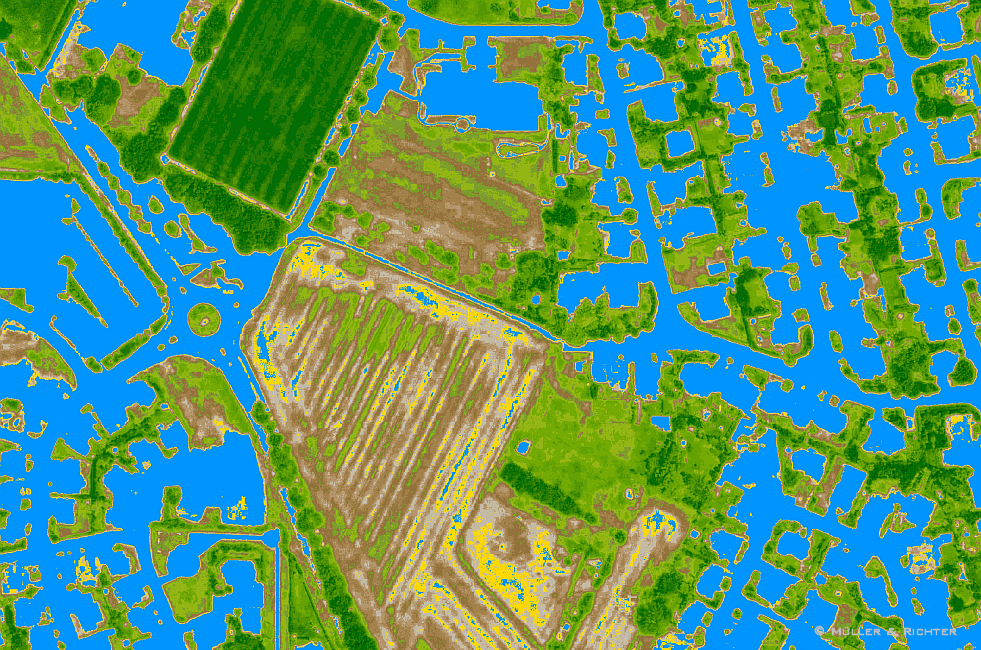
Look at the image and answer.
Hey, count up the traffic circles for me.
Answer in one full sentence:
Just 1 traffic circle appears in this view.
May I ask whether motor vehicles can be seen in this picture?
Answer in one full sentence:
No, I can see no motor vehicle in this picture.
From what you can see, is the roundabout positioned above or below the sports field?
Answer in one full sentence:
Within the scene, the roundabout can be found below the sports field.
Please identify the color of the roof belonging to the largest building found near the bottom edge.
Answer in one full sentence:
The roof of the largest building found near the bottom edge is blue.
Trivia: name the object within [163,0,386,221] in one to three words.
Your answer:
sports field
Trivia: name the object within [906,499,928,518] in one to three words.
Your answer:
house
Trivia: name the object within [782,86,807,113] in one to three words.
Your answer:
house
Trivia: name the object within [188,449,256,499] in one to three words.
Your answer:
building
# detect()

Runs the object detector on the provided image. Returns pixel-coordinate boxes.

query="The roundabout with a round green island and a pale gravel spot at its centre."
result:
[175,290,234,349]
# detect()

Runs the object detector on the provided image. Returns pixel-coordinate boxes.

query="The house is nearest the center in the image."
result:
[565,277,590,298]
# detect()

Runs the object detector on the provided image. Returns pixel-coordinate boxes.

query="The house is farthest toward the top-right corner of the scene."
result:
[935,19,959,40]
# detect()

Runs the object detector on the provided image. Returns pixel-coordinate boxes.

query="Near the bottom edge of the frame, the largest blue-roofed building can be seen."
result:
[236,579,260,629]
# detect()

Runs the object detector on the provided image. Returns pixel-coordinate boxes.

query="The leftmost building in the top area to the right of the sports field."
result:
[429,95,535,114]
